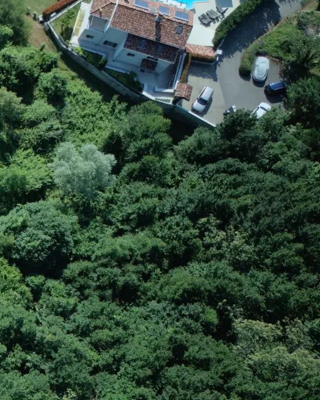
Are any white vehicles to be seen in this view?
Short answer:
Yes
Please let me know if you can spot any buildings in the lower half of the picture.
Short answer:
No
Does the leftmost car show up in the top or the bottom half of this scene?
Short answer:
top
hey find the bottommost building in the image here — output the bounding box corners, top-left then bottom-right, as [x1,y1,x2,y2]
[168,86,192,109]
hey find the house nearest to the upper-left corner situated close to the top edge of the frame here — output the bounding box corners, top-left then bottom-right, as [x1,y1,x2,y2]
[78,0,194,80]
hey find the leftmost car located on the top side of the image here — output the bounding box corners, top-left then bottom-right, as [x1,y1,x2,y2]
[191,84,217,114]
